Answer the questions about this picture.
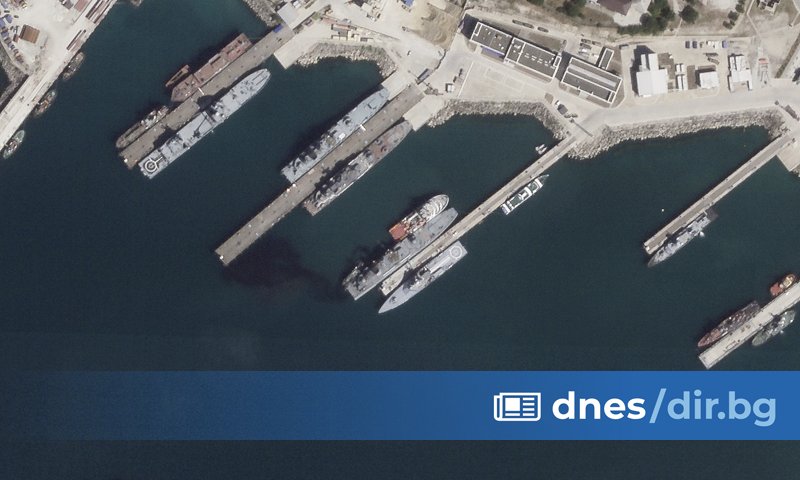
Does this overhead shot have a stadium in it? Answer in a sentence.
No, I can see no stadium in this picture.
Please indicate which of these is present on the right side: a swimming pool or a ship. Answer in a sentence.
Looking on the right side, you will find a ship.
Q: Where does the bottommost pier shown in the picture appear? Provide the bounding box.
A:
[699,283,800,369]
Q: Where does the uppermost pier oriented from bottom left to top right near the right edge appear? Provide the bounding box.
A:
[645,131,796,254]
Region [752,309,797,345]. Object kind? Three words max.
ship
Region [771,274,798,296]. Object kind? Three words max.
boat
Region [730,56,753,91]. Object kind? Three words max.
building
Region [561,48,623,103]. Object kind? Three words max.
building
